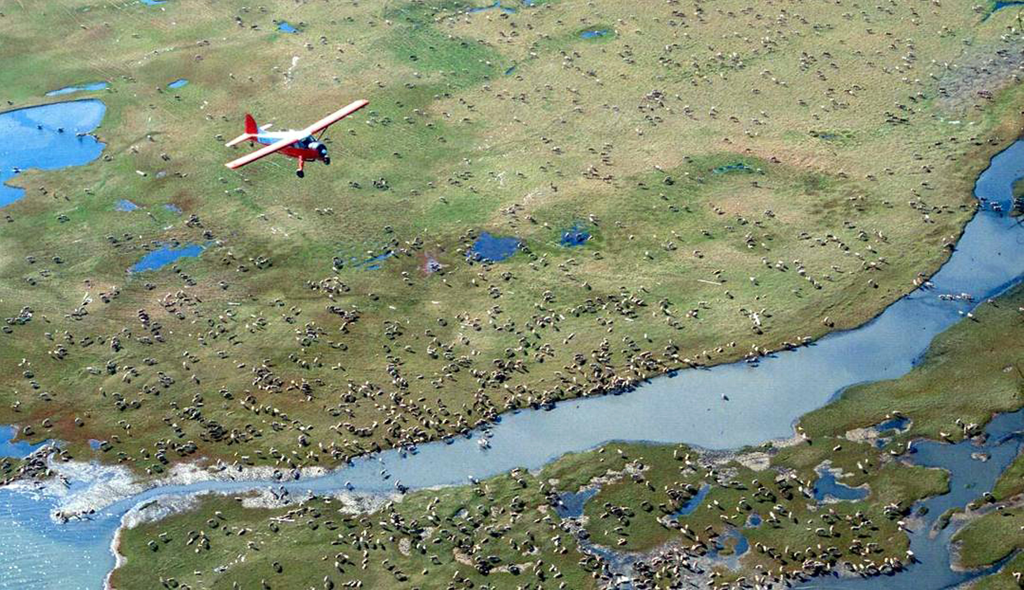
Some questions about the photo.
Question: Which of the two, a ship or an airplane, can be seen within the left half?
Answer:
airplane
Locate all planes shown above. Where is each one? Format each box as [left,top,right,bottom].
[225,100,369,177]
